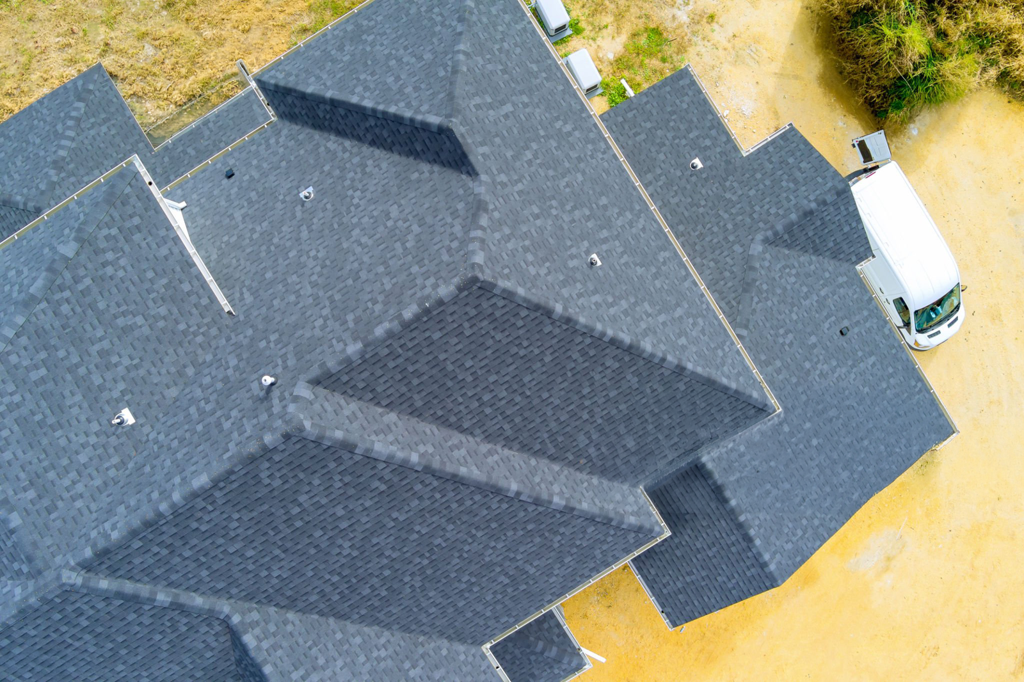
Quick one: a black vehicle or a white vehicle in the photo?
white vehicle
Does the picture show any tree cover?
No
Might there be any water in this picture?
No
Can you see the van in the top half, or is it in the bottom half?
top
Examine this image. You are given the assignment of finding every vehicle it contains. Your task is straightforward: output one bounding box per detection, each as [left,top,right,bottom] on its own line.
[841,128,968,349]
